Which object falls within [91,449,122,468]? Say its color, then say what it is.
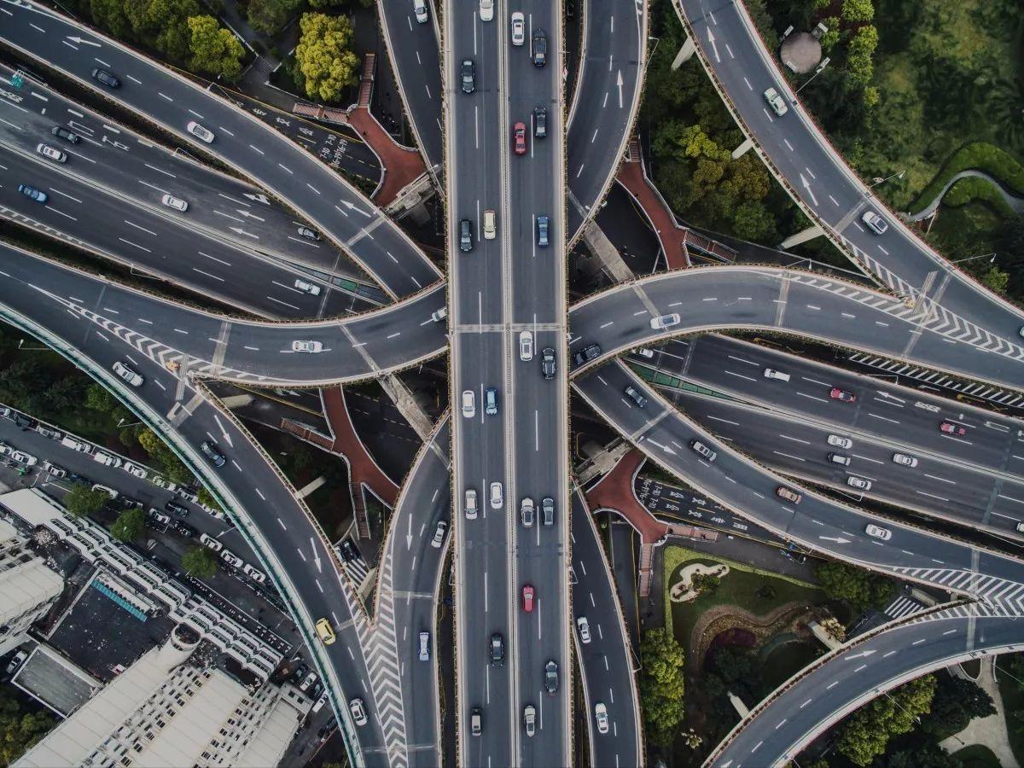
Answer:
white vehicle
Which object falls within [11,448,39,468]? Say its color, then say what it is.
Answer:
white car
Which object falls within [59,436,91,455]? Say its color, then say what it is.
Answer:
white vehicle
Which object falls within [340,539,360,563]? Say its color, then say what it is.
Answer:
black car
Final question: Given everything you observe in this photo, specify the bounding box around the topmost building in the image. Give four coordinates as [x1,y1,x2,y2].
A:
[779,33,820,75]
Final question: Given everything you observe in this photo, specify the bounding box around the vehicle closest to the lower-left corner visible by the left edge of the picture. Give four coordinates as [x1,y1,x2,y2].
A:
[5,647,30,673]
